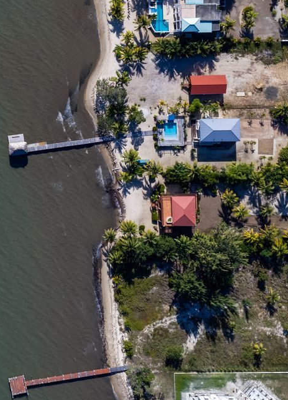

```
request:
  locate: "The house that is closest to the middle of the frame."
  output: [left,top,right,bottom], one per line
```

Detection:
[159,192,197,232]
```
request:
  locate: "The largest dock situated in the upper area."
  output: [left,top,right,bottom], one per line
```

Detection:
[26,133,115,152]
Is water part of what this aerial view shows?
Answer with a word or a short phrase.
Yes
